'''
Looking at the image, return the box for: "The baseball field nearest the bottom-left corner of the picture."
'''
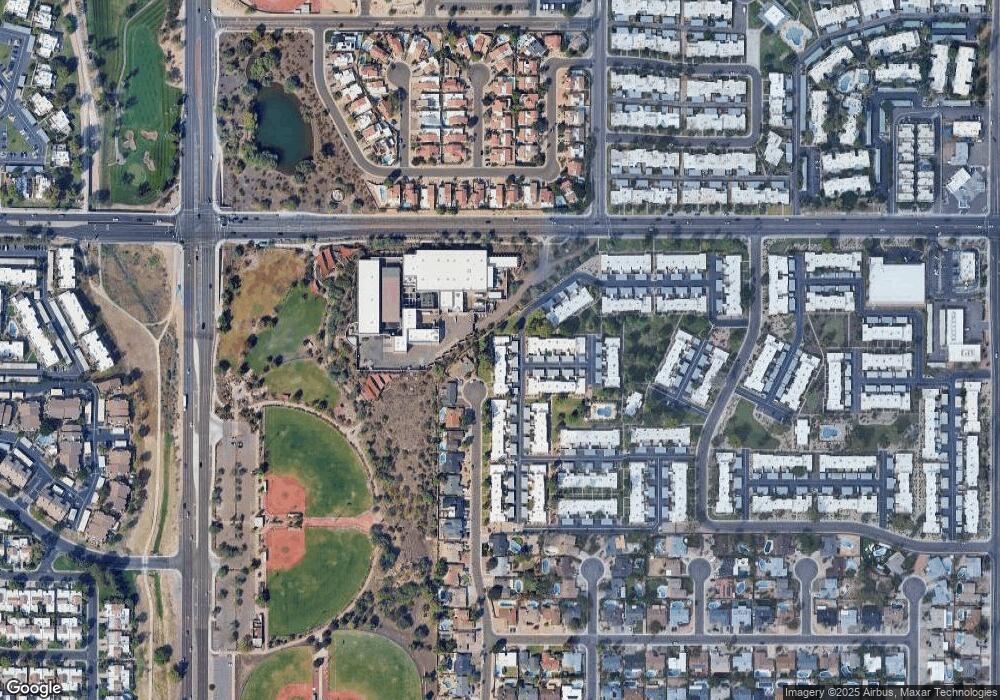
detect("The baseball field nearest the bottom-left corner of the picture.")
[241,645,313,700]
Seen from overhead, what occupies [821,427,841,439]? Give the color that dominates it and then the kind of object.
blue swimming pool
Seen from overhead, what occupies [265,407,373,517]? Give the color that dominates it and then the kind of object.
green baseball field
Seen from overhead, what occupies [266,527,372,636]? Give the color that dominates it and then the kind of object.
green baseball field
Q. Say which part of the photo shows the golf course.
top left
